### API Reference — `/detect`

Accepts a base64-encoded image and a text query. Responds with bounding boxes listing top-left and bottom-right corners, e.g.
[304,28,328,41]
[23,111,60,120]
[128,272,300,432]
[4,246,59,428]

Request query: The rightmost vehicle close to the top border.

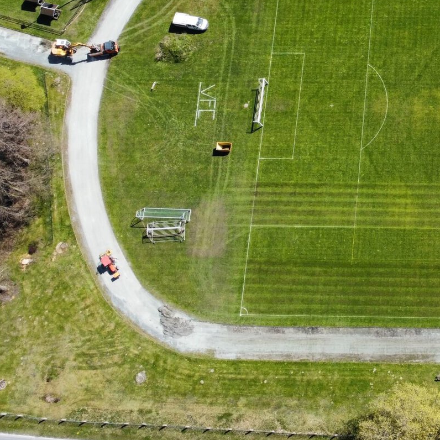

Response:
[172,13,208,32]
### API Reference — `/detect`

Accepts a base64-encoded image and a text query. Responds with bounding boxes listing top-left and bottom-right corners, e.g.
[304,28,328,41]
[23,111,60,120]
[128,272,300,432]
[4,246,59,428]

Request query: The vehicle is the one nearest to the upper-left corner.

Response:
[50,40,92,59]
